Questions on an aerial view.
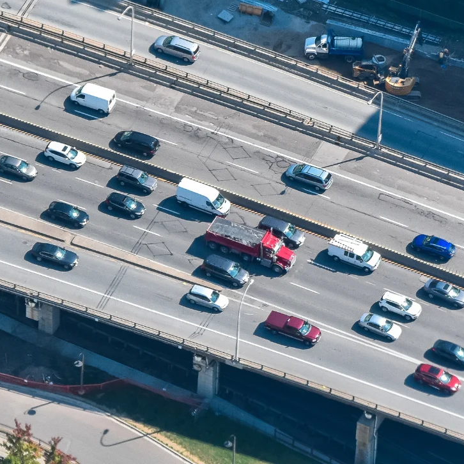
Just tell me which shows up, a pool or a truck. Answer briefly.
truck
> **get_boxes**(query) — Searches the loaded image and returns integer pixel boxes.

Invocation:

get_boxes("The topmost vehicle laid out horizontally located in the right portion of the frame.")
[302,28,363,56]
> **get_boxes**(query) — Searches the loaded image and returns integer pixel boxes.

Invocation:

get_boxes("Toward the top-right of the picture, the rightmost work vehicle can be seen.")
[384,14,430,94]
